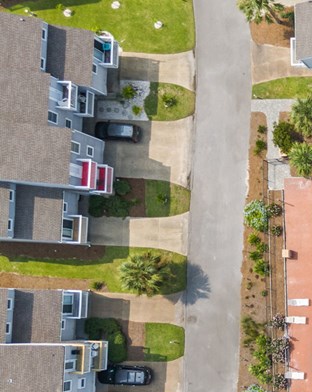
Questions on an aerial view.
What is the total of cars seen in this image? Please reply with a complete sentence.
There are 2 cars in the image.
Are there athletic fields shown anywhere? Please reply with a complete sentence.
No, I can't see a single athletic field in this photo.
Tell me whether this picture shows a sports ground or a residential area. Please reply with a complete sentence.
The area seen from above is a residential area.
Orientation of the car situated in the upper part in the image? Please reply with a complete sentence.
In this picture, the car situated in the upper part lies horizontally.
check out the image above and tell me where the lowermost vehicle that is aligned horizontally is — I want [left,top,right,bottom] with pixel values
[98,364,151,388]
